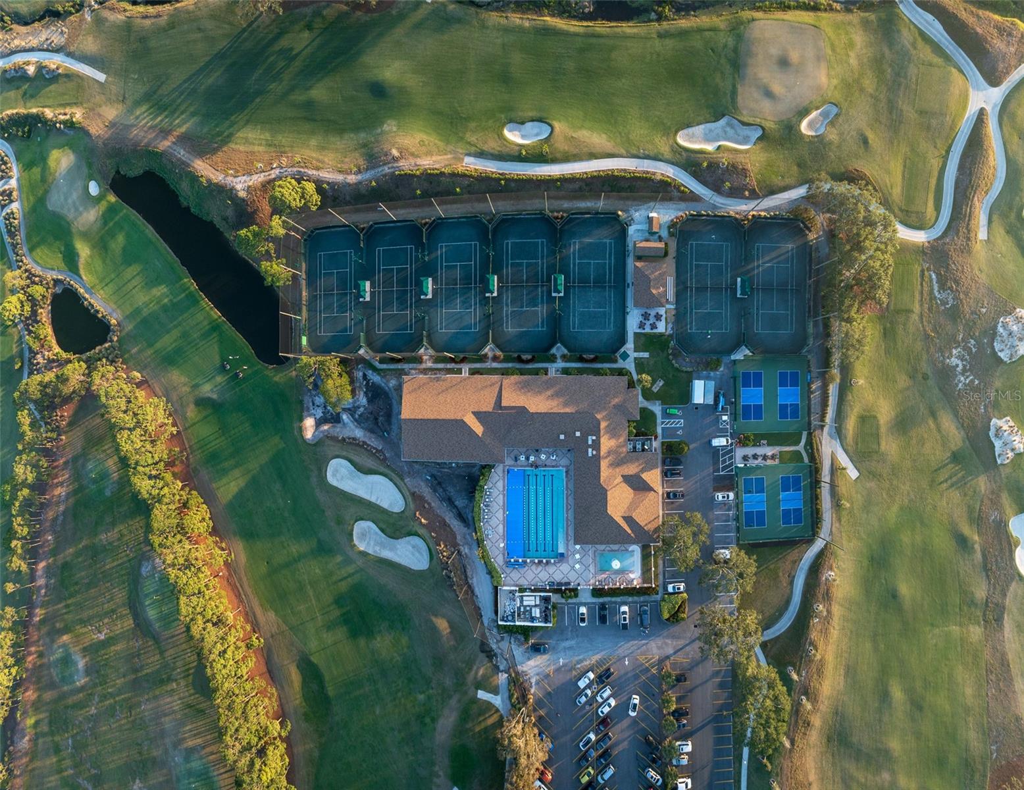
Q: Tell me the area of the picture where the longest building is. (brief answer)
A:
center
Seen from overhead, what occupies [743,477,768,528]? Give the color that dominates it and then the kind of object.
blue sports court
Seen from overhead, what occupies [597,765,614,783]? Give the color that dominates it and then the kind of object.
blue car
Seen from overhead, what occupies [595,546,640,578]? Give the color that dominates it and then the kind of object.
blue swimming pool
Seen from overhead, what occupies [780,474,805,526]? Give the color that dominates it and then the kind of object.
blue sports court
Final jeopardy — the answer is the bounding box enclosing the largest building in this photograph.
[401,376,660,544]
